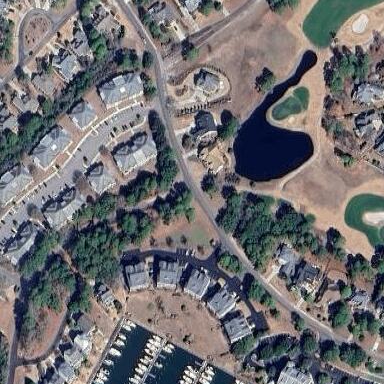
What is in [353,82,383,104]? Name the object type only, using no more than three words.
house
